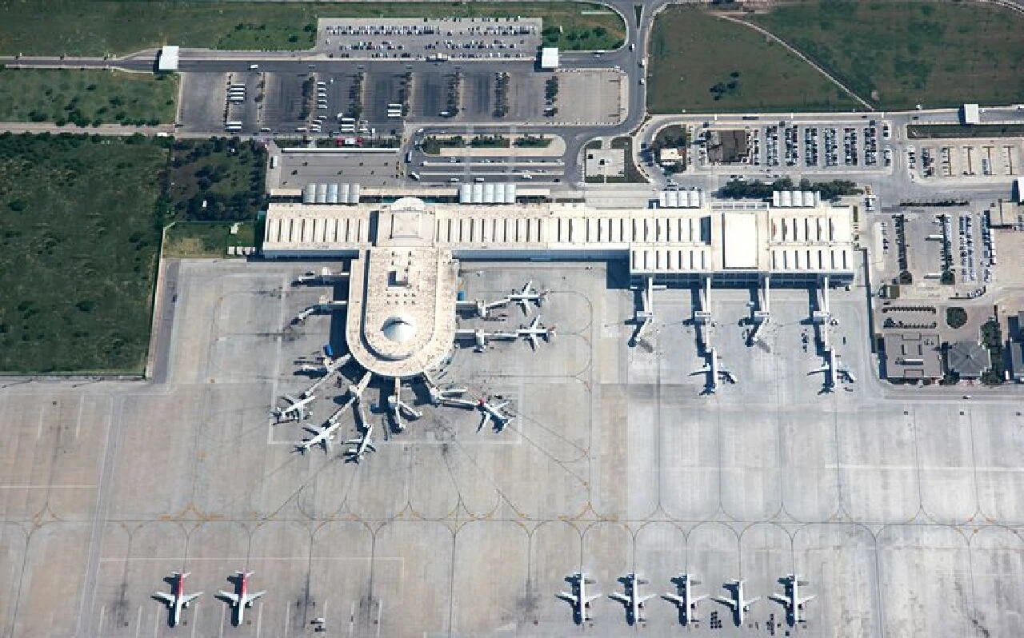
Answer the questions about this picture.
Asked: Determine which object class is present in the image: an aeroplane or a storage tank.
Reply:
aeroplane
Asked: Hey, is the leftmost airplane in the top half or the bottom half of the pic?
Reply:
bottom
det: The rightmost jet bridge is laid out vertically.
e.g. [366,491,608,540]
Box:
[813,277,830,352]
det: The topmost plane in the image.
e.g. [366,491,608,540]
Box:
[512,280,548,315]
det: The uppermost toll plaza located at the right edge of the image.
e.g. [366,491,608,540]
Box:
[964,104,979,124]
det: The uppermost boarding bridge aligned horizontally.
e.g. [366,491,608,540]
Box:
[296,267,350,283]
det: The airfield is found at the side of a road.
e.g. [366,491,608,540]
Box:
[0,240,1024,638]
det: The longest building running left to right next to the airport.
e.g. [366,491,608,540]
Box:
[261,196,854,281]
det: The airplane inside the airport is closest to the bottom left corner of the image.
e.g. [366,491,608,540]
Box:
[155,573,204,624]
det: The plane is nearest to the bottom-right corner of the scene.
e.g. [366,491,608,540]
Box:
[770,574,819,625]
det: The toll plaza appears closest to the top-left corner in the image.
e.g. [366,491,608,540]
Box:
[159,46,180,70]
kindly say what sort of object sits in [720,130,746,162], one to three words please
building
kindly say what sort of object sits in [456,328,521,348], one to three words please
jet bridge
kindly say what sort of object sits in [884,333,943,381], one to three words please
building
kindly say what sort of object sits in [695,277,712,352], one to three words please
jet bridge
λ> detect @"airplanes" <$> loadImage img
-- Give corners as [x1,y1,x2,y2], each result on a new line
[559,574,607,625]
[277,390,315,423]
[521,316,555,351]
[345,427,382,459]
[612,572,660,624]
[665,575,713,625]
[716,581,765,627]
[512,280,548,315]
[155,573,204,624]
[300,419,339,453]
[218,573,267,624]
[770,574,819,625]
[690,349,737,390]
[479,393,514,427]
[810,349,856,389]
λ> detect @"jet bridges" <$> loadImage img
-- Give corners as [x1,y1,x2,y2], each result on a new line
[296,267,350,283]
[456,328,521,348]
[295,296,348,321]
[752,277,770,344]
[813,277,830,352]
[424,372,481,407]
[328,372,374,430]
[635,277,654,345]
[695,277,712,352]
[301,355,353,396]
[387,380,423,431]
[458,296,513,319]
